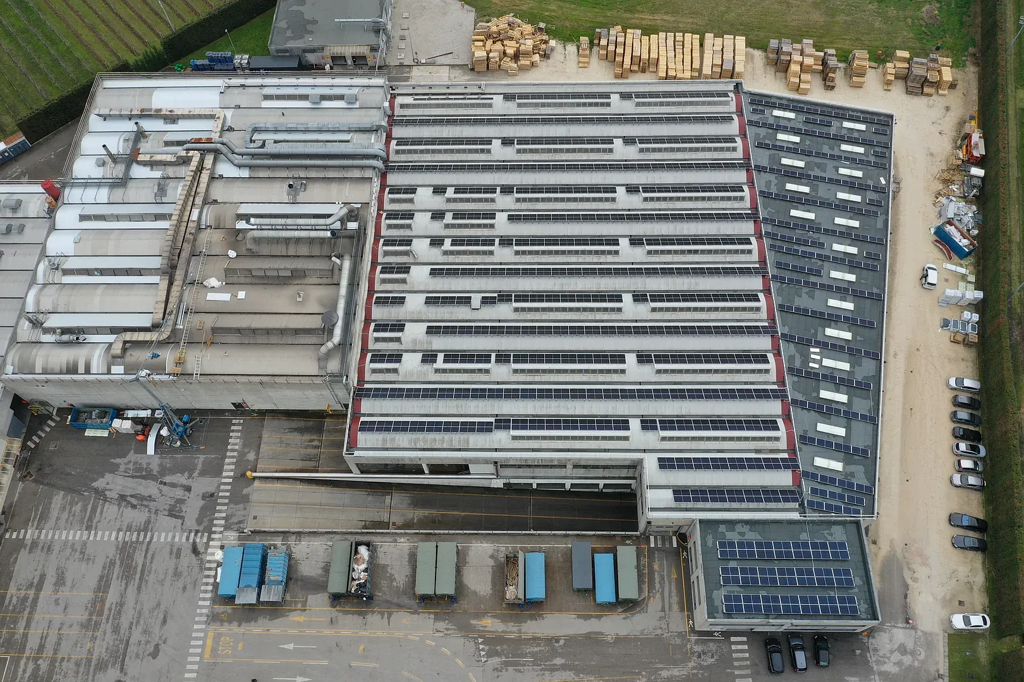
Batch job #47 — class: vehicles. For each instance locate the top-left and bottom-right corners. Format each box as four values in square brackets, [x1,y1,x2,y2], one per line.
[786,632,811,674]
[953,393,985,410]
[955,456,986,473]
[953,440,990,457]
[951,471,989,490]
[948,374,985,392]
[812,634,833,668]
[951,611,993,630]
[950,512,991,532]
[952,424,986,442]
[952,409,984,426]
[952,533,991,552]
[132,421,149,444]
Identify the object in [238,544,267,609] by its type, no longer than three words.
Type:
shipping container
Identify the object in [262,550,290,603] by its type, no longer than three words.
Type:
shipping container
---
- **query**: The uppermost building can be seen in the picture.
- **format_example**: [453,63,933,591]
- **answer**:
[268,0,392,61]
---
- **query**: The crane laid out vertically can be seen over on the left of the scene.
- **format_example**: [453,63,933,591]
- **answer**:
[121,264,200,446]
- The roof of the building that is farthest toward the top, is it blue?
No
